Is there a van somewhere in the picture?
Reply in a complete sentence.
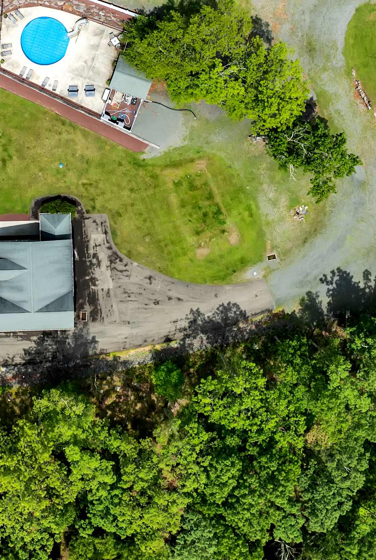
No, no van is visible in the scene.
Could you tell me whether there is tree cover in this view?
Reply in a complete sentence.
Yes, there's tree cover in this view.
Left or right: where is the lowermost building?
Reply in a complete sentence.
The lowermost building appears in the left half of the scene.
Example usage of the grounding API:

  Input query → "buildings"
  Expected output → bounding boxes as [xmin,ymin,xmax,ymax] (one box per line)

[109,45,154,100]
[0,239,75,332]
